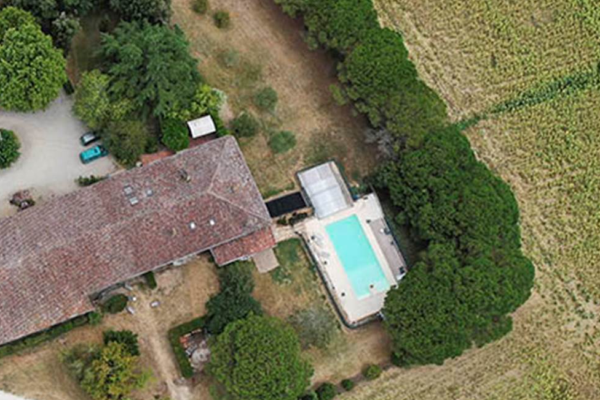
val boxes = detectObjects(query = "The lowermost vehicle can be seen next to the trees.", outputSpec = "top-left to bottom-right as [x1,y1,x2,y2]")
[80,145,109,163]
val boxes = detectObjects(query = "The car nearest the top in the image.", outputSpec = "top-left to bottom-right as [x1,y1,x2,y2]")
[80,129,107,146]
